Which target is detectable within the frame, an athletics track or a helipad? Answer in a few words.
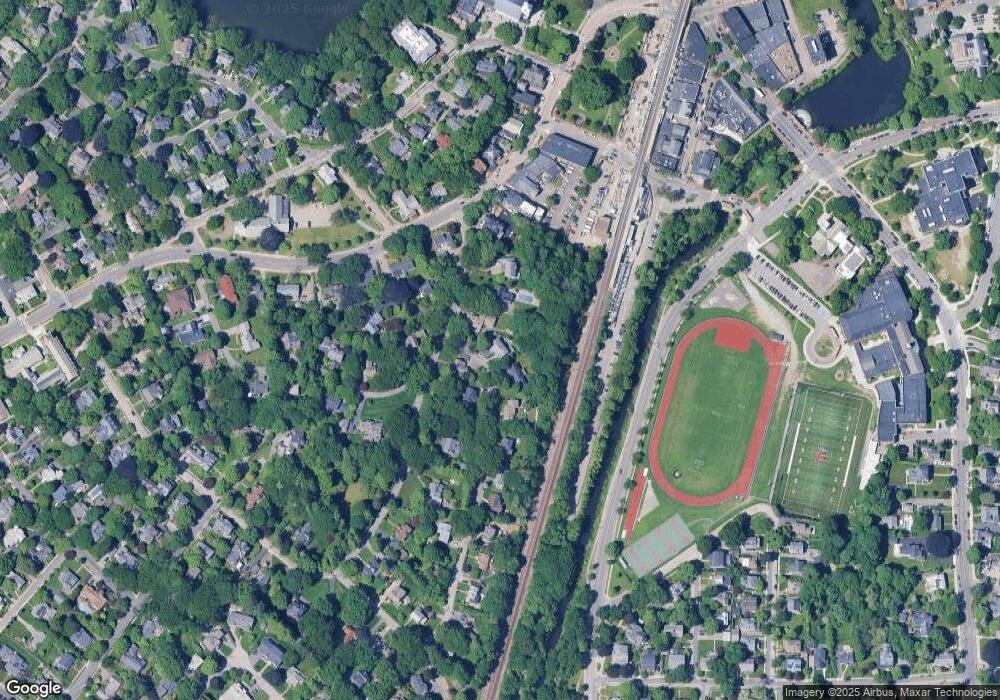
athletics track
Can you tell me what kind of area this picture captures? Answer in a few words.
residential area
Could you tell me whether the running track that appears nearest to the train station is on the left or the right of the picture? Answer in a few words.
right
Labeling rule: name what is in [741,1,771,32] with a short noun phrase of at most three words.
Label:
building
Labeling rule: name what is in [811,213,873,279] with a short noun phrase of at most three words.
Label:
building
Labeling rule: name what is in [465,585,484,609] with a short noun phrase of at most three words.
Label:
house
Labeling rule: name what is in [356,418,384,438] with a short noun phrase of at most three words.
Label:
house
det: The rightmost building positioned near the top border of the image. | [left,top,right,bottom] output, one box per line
[951,30,989,75]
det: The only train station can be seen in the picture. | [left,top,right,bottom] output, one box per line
[604,168,653,292]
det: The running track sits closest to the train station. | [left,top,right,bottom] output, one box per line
[646,317,787,507]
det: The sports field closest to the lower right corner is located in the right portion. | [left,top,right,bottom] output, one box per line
[771,380,871,519]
